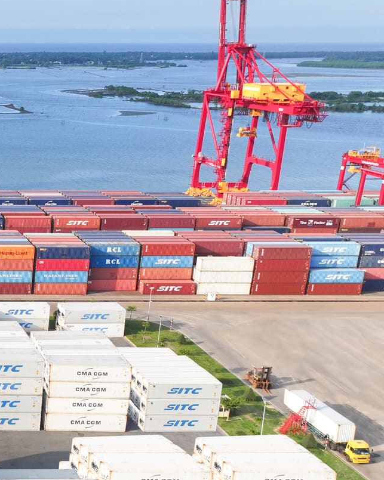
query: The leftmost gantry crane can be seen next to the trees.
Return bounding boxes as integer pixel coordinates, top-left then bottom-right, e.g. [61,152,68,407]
[185,0,334,205]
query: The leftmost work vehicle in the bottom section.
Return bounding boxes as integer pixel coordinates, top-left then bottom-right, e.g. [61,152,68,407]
[242,364,278,392]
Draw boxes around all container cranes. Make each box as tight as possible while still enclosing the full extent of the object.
[185,0,334,205]
[340,148,384,206]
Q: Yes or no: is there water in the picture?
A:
Yes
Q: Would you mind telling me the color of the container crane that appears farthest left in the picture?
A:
red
